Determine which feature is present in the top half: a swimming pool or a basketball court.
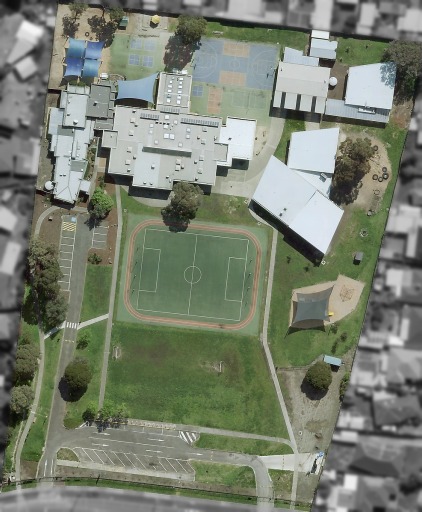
basketball court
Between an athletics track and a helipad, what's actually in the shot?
athletics track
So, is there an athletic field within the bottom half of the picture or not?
Yes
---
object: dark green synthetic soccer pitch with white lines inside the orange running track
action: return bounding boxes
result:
[128,226,256,324]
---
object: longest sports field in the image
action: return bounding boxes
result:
[106,323,287,430]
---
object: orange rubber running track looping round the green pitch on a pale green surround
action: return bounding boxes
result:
[116,214,270,336]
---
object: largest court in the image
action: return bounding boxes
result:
[192,40,280,90]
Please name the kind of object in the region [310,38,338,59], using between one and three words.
shed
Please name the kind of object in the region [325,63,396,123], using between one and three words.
building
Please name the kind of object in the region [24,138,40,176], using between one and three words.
house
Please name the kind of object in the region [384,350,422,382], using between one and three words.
house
